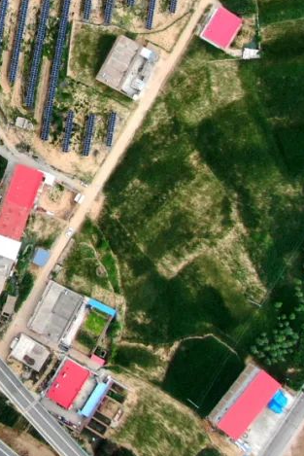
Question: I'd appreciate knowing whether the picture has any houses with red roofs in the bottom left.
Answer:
Yes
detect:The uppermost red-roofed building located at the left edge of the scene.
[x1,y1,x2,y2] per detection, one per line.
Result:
[4,164,46,206]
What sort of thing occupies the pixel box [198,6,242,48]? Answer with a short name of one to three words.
house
